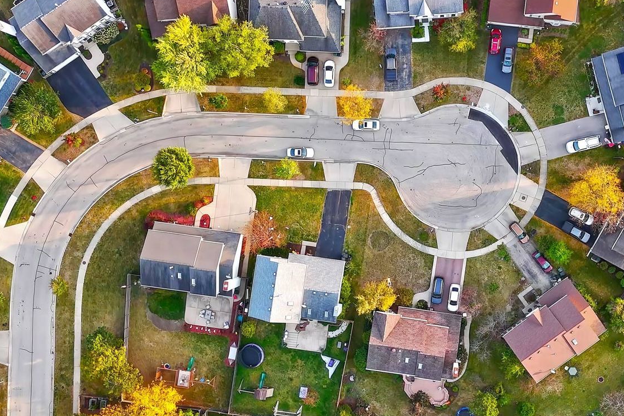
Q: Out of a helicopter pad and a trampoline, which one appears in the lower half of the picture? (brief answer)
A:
trampoline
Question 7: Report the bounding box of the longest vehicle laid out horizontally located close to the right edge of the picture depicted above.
[565,134,602,153]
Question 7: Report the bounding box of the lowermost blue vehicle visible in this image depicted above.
[431,277,444,305]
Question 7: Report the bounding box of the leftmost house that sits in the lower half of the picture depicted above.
[135,222,246,298]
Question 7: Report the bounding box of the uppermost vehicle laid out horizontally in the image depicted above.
[353,119,381,131]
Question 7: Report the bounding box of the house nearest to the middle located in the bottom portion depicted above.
[250,253,347,324]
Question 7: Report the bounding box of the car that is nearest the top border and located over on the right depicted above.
[489,28,501,55]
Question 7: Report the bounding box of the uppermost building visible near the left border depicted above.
[0,0,116,74]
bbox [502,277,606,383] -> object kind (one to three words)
house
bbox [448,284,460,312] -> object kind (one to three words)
vehicle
